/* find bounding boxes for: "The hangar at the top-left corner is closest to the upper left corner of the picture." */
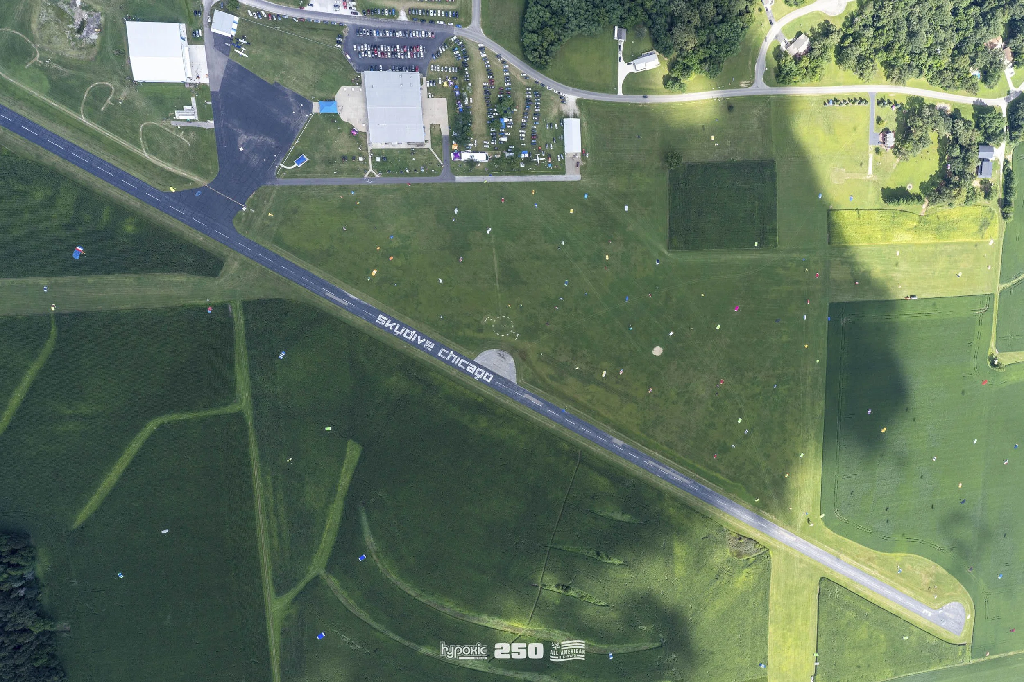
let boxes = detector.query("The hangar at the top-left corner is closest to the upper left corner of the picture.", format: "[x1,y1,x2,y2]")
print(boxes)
[126,21,196,84]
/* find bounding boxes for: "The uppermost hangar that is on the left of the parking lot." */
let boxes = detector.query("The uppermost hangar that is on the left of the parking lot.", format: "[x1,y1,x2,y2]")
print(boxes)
[205,9,244,39]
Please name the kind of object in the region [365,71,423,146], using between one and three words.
building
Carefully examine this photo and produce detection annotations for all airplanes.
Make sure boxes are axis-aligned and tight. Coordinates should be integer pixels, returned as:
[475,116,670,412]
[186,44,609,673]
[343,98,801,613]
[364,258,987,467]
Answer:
[234,33,250,45]
[532,152,546,165]
[230,39,241,49]
[233,47,247,58]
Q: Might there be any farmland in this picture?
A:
Yes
